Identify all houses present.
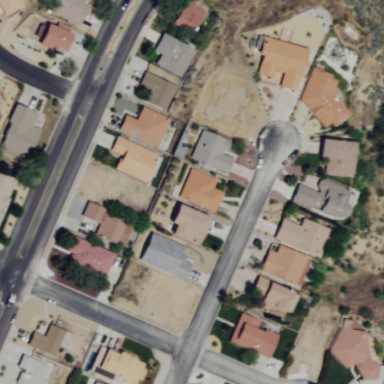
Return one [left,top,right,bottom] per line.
[84,201,132,246]
[92,346,147,384]
[140,232,193,279]
[0,0,24,17]
[232,312,281,358]
[112,136,158,183]
[256,276,300,318]
[168,203,215,246]
[262,245,314,287]
[3,104,46,154]
[180,168,225,213]
[192,130,234,174]
[42,23,75,51]
[324,138,360,178]
[54,0,88,24]
[0,174,18,223]
[292,178,360,219]
[301,66,352,128]
[175,3,206,28]
[29,324,67,356]
[331,320,382,380]
[258,28,310,91]
[120,106,172,147]
[17,354,54,384]
[68,237,116,274]
[156,33,197,77]
[275,218,330,258]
